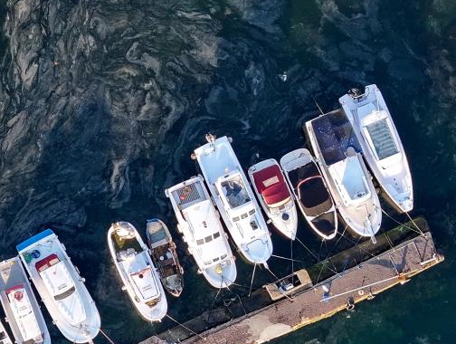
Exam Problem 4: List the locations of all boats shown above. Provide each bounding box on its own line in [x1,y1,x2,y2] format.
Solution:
[303,100,387,236]
[339,85,413,212]
[16,227,98,344]
[110,221,166,321]
[0,255,49,344]
[279,148,335,239]
[163,177,238,287]
[247,157,299,242]
[189,136,273,263]
[144,217,183,295]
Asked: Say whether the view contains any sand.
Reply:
No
